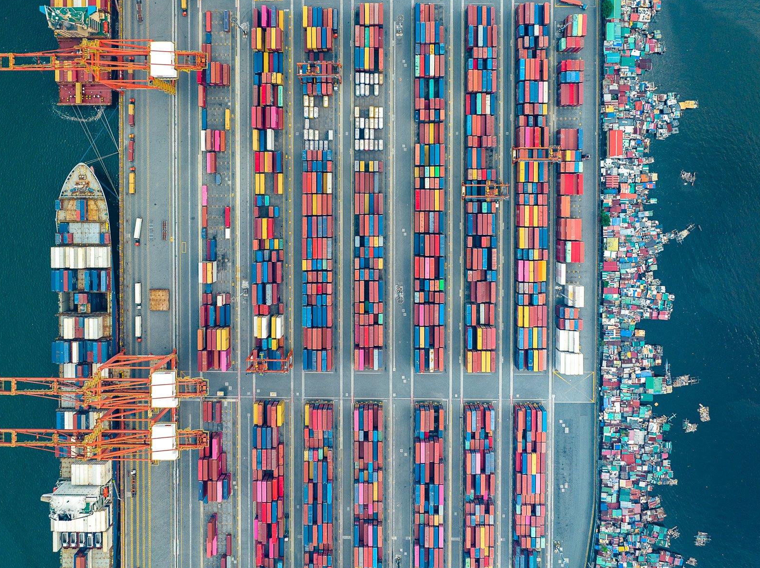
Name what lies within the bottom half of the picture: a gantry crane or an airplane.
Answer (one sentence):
Looking within the bottom half of the picture, you will find a gantry crane.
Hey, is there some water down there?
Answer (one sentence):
Yes, some water is visible.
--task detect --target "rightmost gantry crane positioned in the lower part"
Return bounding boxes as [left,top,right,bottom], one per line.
[247,348,293,375]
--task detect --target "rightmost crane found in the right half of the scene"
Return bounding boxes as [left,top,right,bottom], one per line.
[510,143,563,166]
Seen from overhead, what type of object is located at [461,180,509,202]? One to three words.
container crane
